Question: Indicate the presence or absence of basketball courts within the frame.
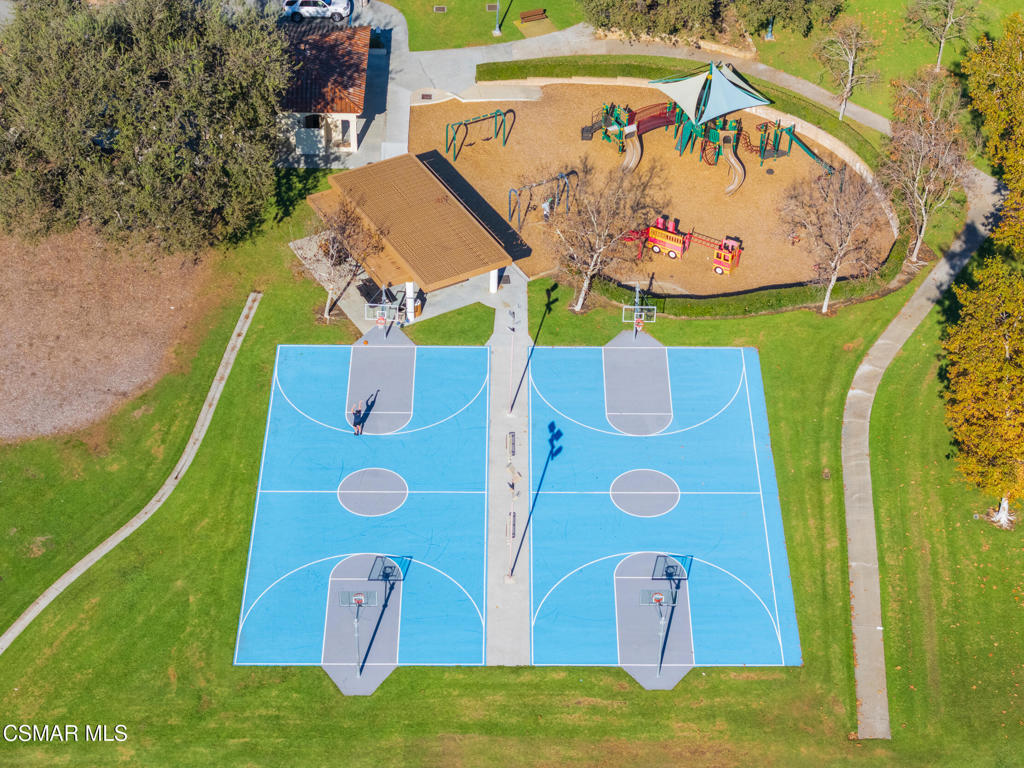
Yes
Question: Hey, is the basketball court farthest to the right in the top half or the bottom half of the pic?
bottom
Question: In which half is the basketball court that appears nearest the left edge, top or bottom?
bottom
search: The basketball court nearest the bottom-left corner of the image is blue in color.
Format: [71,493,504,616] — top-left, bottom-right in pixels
[233,325,491,696]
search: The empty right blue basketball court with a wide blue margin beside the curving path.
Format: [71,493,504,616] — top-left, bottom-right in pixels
[528,326,802,691]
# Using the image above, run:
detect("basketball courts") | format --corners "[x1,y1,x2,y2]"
[528,326,802,691]
[233,325,491,696]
